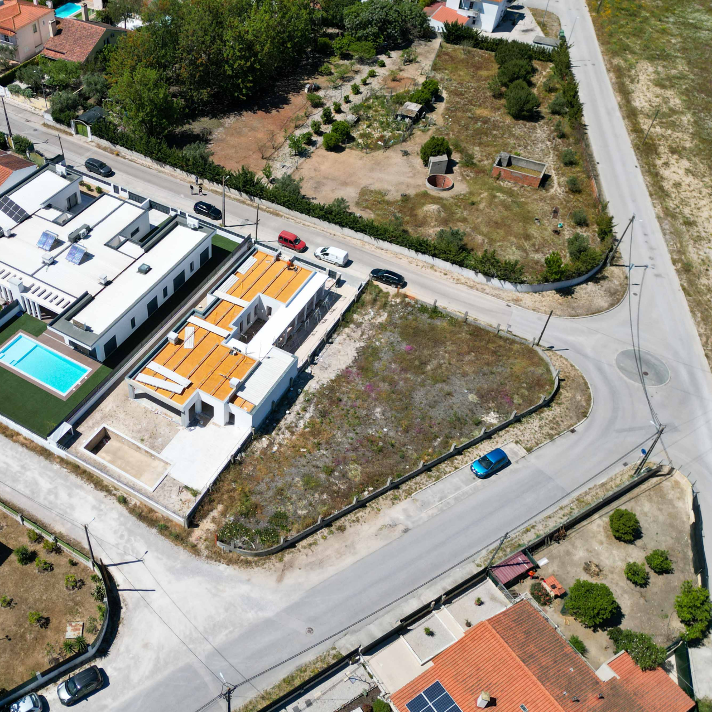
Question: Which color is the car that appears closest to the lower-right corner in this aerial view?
blue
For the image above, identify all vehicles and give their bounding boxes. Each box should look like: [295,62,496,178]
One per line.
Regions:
[469,442,516,478]
[82,151,114,175]
[277,222,307,249]
[0,687,43,712]
[316,242,350,263]
[370,266,407,285]
[54,661,107,707]
[192,194,222,216]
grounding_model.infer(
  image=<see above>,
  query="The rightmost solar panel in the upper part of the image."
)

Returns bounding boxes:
[66,242,86,265]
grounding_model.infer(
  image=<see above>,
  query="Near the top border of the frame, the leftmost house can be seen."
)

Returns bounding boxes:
[0,0,53,60]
